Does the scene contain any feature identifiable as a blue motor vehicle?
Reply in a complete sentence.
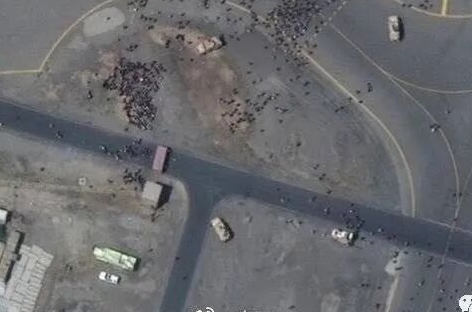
No, I find no blue motor vehicle anywhere in the image.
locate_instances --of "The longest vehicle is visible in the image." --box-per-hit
[92,247,137,272]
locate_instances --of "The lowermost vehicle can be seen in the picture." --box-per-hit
[100,272,119,284]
